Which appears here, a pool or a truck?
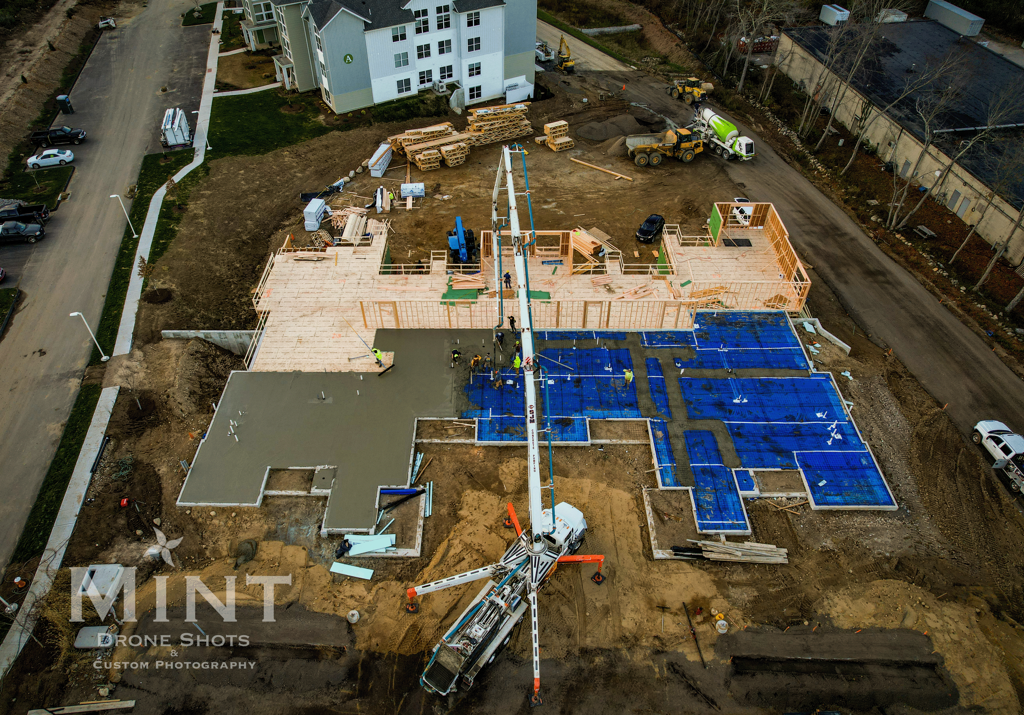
truck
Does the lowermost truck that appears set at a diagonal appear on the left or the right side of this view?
right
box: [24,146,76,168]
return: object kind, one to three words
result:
car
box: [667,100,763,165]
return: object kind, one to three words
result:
truck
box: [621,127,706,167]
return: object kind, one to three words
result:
truck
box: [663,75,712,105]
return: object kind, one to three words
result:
work vehicle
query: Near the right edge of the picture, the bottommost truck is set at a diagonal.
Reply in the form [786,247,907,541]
[974,421,1024,501]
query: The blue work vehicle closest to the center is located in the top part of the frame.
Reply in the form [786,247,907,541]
[446,207,477,272]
